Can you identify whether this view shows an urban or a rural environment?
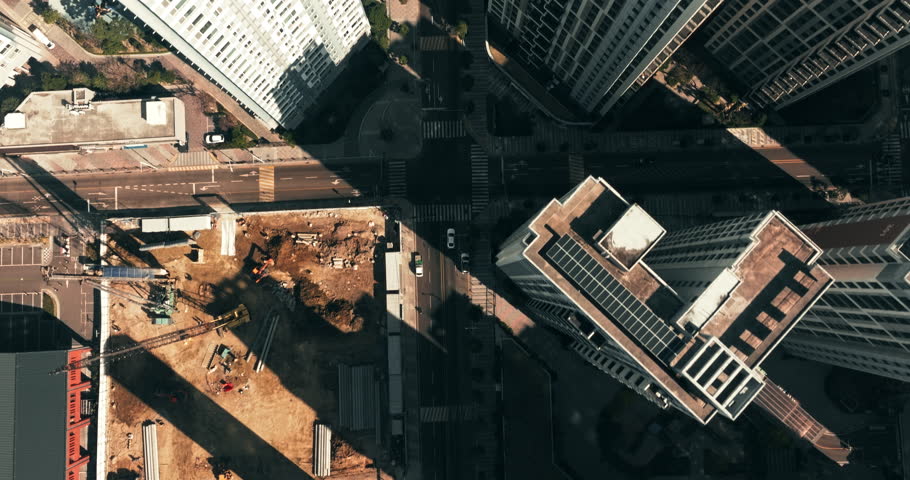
urban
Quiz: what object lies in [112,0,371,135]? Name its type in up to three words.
building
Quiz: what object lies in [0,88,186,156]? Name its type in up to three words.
building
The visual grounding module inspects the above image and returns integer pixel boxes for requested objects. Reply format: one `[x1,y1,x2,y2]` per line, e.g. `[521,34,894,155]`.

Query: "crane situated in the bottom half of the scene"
[44,300,254,377]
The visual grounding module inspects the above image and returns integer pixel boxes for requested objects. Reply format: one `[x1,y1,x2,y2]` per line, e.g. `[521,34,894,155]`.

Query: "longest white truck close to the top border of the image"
[25,21,53,52]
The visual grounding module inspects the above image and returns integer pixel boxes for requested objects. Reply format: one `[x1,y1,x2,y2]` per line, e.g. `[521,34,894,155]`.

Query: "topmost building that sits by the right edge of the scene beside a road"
[706,0,910,114]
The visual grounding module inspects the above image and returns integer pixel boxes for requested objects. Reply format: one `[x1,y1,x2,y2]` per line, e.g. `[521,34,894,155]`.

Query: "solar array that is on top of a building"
[544,234,691,371]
